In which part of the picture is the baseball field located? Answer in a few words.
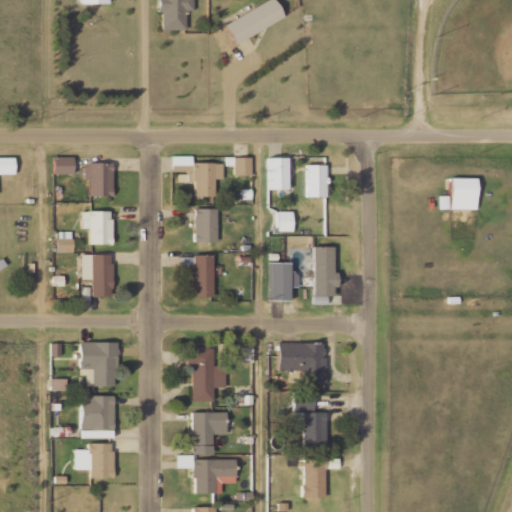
top right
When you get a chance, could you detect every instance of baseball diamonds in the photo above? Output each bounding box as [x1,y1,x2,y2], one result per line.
[434,0,512,92]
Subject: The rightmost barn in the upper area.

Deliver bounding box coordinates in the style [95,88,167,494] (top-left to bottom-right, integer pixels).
[438,178,482,210]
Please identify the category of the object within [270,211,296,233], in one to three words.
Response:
building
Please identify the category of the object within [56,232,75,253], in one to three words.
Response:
shed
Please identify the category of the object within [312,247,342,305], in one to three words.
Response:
house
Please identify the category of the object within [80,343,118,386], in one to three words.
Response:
house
